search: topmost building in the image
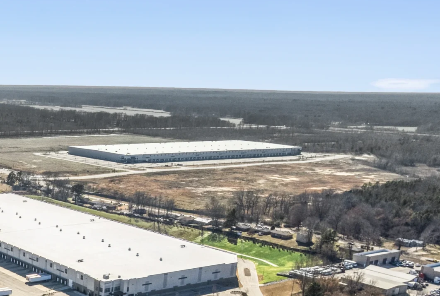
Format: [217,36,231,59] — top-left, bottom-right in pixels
[63,140,305,164]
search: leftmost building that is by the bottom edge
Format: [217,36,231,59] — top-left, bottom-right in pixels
[0,195,246,296]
